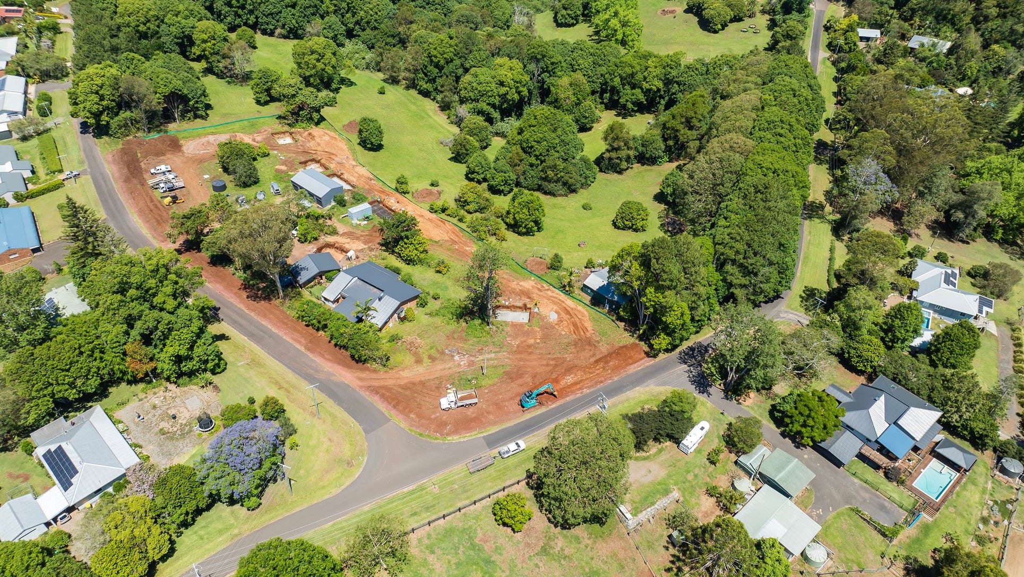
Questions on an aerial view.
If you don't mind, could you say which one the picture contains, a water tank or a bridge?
water tank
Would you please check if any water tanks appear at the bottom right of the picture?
Yes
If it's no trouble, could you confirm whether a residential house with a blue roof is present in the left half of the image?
Yes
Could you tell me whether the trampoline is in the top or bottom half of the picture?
bottom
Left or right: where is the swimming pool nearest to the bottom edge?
right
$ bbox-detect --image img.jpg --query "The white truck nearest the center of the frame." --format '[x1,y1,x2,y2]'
[438,389,479,411]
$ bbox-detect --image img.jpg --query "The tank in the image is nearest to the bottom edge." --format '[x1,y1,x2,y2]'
[797,537,830,570]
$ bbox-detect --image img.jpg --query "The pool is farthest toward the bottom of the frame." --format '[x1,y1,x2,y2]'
[913,459,959,501]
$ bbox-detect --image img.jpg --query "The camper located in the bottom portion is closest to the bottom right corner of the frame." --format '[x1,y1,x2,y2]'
[680,414,710,450]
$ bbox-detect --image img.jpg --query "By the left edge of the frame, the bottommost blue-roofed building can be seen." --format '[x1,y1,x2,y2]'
[0,206,43,266]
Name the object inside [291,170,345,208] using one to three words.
shed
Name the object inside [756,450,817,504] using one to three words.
building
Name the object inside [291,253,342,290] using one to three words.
building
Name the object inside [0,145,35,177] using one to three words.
house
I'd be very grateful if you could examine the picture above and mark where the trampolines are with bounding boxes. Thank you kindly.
[193,411,214,431]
